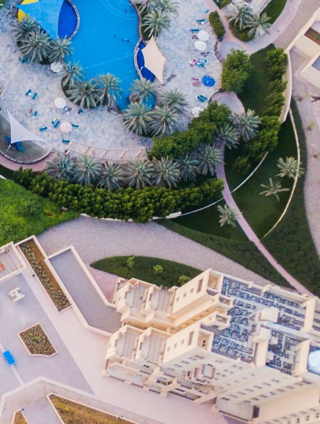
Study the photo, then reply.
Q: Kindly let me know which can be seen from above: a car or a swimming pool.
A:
swimming pool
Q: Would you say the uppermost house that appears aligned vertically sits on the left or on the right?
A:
right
